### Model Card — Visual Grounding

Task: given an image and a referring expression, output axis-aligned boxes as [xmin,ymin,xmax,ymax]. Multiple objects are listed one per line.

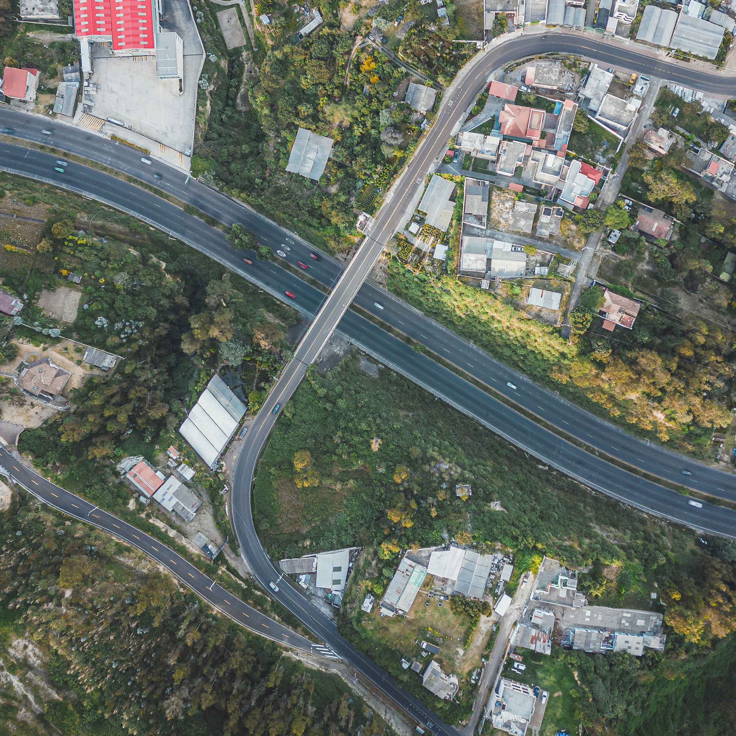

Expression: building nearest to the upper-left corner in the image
[20,0,61,19]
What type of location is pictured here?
residential area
